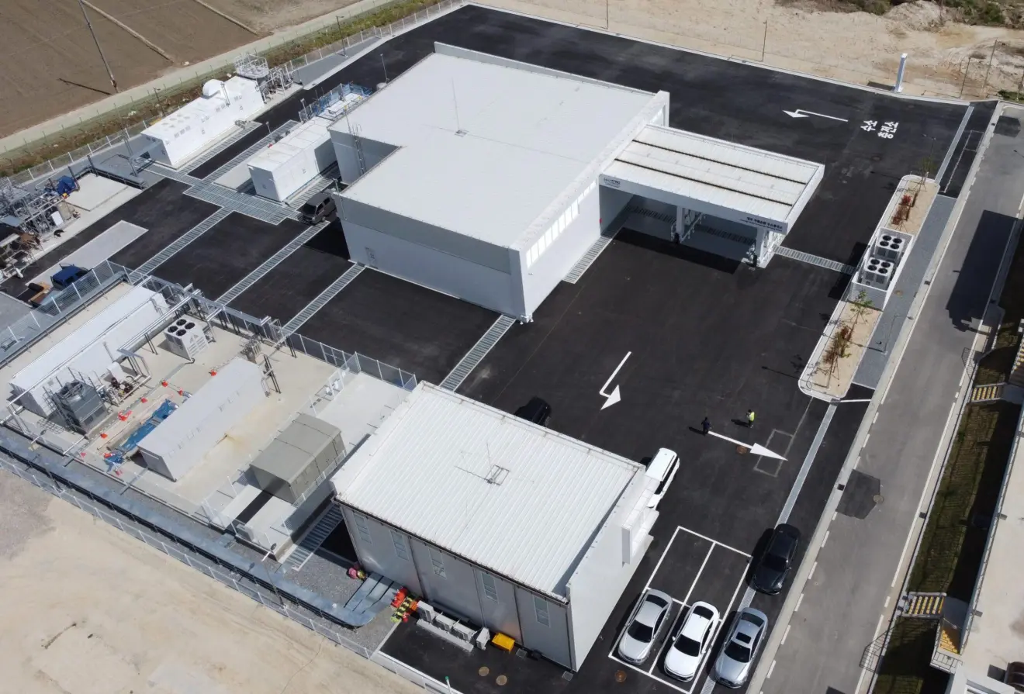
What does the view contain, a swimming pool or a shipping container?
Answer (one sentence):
This aerial view contains a shipping container.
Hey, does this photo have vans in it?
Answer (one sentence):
Yes, a van appears in the view.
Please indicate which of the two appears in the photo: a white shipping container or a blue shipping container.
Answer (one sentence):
It is a white shipping container that can be seen here.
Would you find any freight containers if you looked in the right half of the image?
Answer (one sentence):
No, no freight container is visible in the right half of the image.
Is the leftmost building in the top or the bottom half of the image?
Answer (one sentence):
The top half of the photo is where the leftmost building is.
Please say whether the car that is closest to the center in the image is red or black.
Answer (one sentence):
The color of the car that is closest to the center is black.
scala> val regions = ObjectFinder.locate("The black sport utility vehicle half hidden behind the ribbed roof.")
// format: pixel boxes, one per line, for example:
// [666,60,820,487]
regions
[521,397,558,426]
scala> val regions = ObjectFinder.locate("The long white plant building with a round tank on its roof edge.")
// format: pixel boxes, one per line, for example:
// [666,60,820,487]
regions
[139,76,266,167]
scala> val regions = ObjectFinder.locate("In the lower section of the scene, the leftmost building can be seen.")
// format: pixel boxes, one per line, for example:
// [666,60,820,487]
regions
[327,379,663,675]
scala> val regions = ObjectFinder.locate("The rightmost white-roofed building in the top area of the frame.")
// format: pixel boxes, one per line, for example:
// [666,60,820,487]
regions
[312,35,671,324]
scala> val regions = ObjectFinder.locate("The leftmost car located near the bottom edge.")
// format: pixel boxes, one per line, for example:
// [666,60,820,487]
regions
[615,589,673,668]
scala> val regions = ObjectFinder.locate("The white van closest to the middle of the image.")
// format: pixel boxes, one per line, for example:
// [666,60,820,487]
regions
[649,446,683,510]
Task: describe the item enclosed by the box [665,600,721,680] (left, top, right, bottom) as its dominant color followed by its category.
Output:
white car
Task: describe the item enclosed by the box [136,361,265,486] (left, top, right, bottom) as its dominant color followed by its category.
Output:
white shipping container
